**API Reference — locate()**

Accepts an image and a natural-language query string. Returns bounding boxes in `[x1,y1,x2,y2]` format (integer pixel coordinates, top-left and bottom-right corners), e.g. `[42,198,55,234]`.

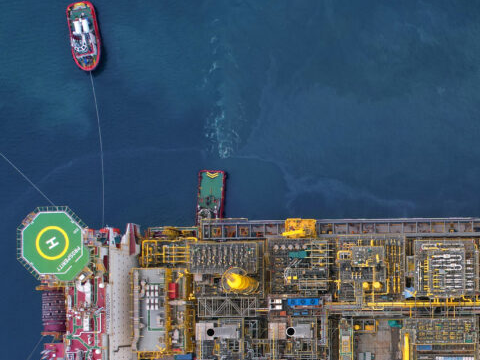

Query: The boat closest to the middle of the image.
[195,170,225,229]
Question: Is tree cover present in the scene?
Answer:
No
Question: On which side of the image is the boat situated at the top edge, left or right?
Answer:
left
